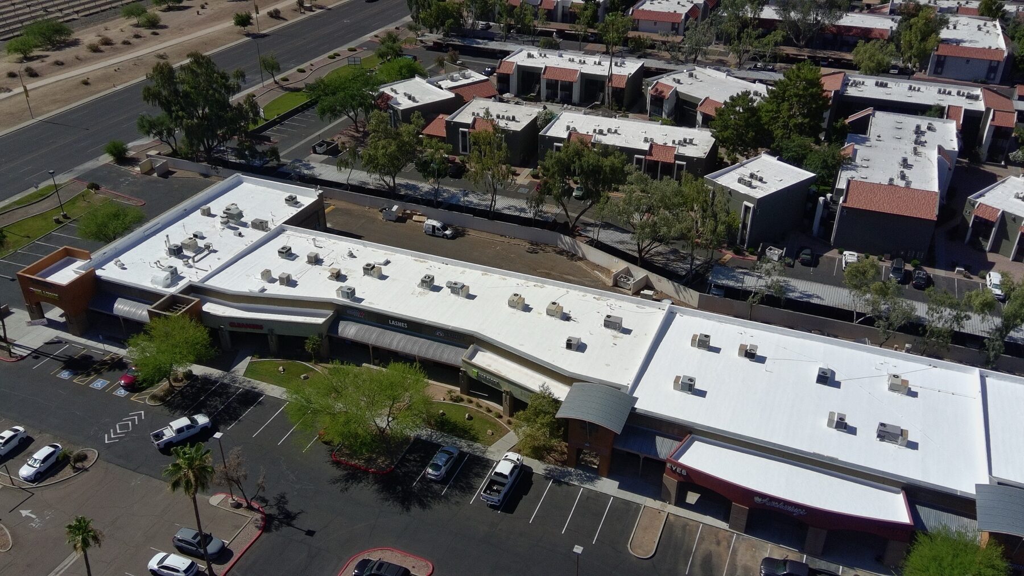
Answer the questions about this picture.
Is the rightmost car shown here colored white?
Yes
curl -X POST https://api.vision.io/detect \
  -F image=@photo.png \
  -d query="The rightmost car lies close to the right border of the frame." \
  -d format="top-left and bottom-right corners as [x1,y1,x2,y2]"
[983,270,1008,297]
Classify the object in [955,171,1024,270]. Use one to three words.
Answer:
building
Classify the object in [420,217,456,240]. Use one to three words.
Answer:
vehicle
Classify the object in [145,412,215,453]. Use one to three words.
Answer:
truck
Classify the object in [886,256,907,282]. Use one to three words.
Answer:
car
